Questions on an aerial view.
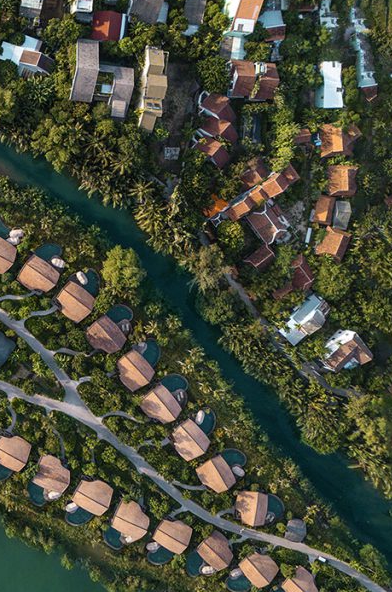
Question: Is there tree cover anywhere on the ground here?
Yes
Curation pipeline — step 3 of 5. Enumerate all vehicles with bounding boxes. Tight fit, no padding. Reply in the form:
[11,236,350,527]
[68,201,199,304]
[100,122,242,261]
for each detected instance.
[305,227,314,241]
[316,554,328,563]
